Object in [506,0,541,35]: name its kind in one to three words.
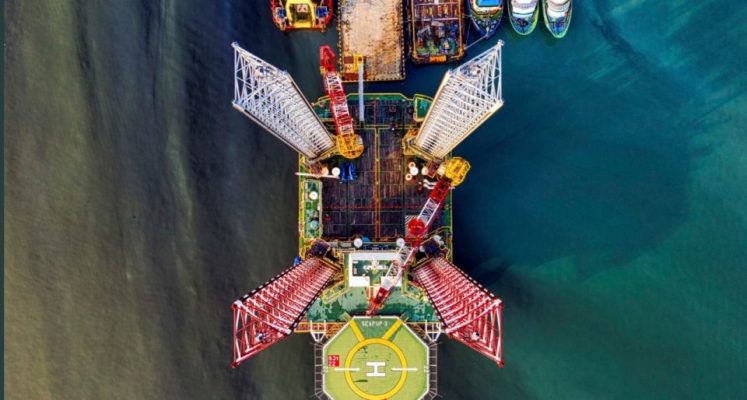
boat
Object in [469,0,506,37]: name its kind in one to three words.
boat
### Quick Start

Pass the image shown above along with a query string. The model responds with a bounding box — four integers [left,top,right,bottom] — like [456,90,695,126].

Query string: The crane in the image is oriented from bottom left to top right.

[371,155,473,306]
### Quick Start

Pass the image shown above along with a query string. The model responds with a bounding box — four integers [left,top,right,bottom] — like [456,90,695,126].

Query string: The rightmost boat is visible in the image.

[540,0,574,39]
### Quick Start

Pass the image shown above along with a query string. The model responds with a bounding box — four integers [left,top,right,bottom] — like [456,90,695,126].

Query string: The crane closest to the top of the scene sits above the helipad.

[314,42,365,161]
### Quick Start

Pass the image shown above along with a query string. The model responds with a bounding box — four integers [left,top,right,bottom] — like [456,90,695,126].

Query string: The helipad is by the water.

[311,307,444,400]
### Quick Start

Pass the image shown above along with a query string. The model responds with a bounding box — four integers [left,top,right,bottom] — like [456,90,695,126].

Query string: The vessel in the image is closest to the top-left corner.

[269,0,332,31]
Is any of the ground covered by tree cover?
No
